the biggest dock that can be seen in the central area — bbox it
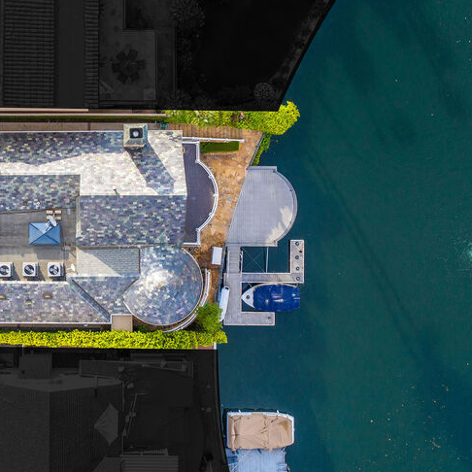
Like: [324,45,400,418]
[224,239,306,326]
